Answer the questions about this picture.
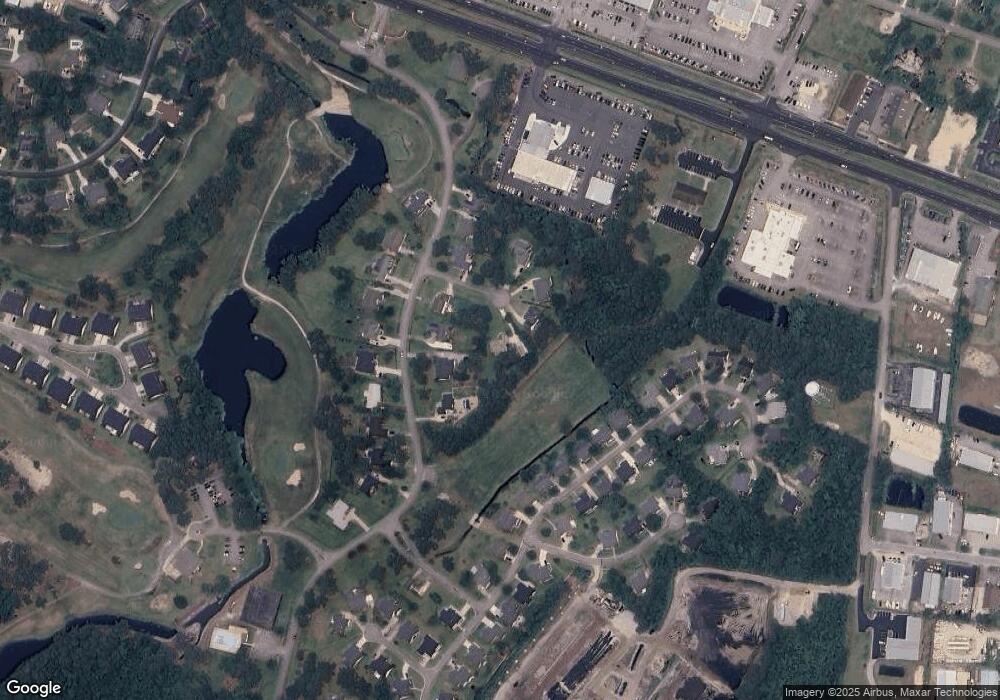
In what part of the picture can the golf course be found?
left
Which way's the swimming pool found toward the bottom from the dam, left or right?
right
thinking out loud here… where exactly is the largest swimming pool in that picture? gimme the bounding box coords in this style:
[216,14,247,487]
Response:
[209,627,240,653]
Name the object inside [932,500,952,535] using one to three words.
building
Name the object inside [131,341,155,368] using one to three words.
house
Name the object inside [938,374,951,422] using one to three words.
shed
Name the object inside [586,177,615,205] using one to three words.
building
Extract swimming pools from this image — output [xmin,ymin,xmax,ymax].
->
[209,627,240,653]
[69,40,83,50]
